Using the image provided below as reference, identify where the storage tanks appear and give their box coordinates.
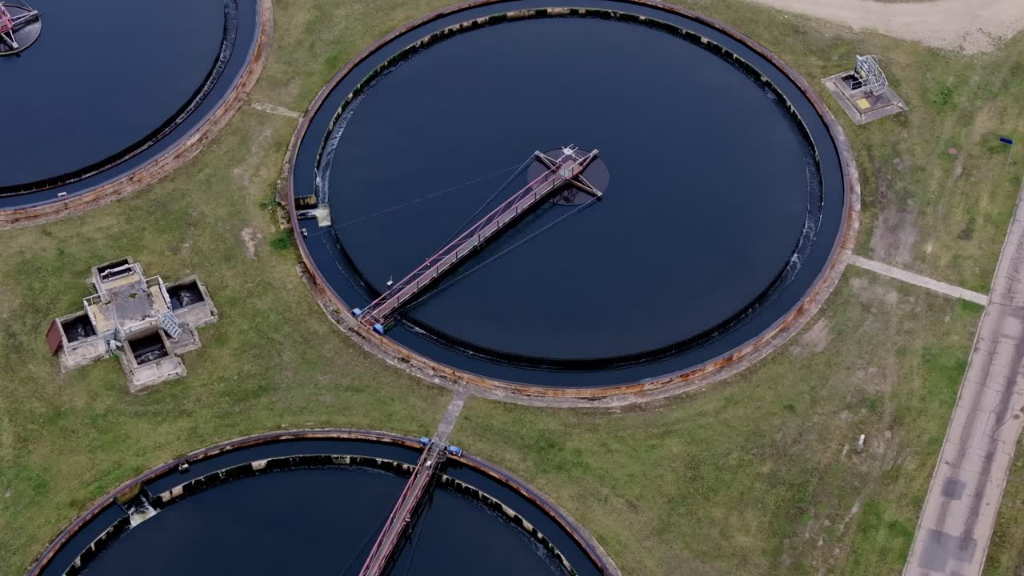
[0,0,276,228]
[276,0,861,408]
[21,427,622,576]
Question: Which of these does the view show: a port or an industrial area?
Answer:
industrial area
